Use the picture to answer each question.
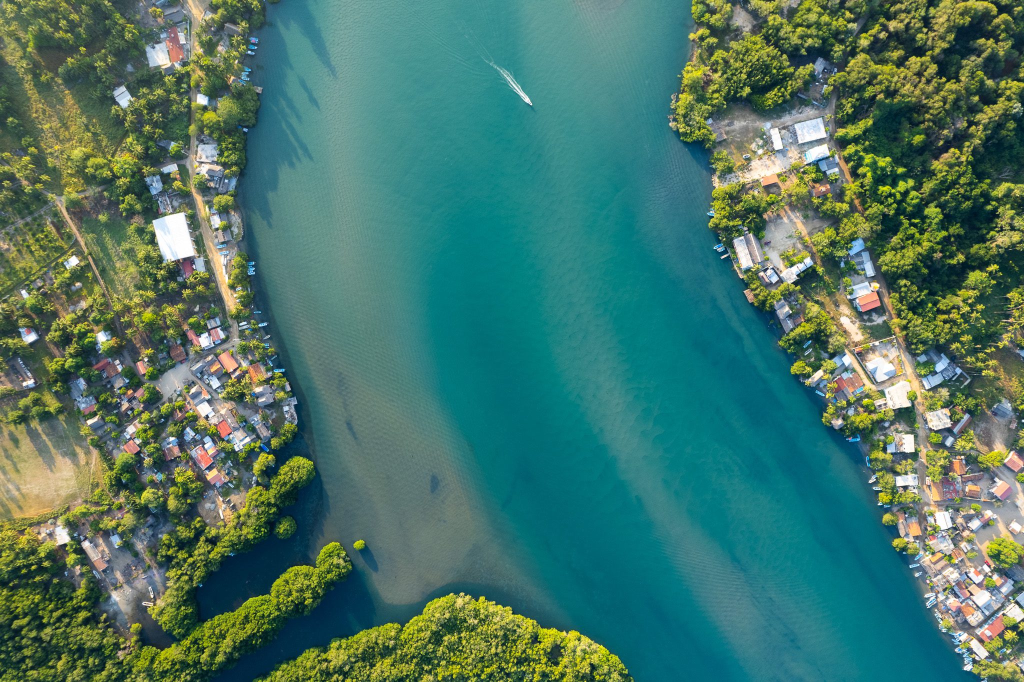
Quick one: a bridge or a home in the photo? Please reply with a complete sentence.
I can see a home in this picture.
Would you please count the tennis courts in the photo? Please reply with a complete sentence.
There are no tennis courts in this view.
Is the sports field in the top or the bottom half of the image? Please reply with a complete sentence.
Seen from above, the sports field lies in the bottom half of the view.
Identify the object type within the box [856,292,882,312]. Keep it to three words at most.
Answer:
house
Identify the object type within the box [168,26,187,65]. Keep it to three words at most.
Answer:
house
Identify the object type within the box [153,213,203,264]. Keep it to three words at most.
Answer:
building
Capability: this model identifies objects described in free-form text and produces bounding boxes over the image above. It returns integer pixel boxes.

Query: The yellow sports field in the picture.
[0,430,85,520]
